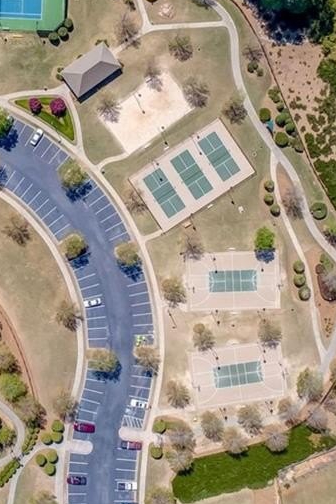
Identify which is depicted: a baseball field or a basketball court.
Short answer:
basketball court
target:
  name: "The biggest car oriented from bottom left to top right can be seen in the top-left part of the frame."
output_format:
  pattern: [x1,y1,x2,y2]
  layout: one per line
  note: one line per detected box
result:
[30,129,44,146]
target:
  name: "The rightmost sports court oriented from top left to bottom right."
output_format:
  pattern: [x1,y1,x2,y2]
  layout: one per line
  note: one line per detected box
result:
[198,132,240,181]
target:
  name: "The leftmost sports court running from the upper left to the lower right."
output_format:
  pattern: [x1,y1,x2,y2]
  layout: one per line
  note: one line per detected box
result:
[143,168,186,218]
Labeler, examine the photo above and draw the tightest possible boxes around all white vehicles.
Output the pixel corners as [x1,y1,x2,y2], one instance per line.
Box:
[118,482,138,491]
[84,298,102,307]
[130,400,148,409]
[30,129,44,146]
